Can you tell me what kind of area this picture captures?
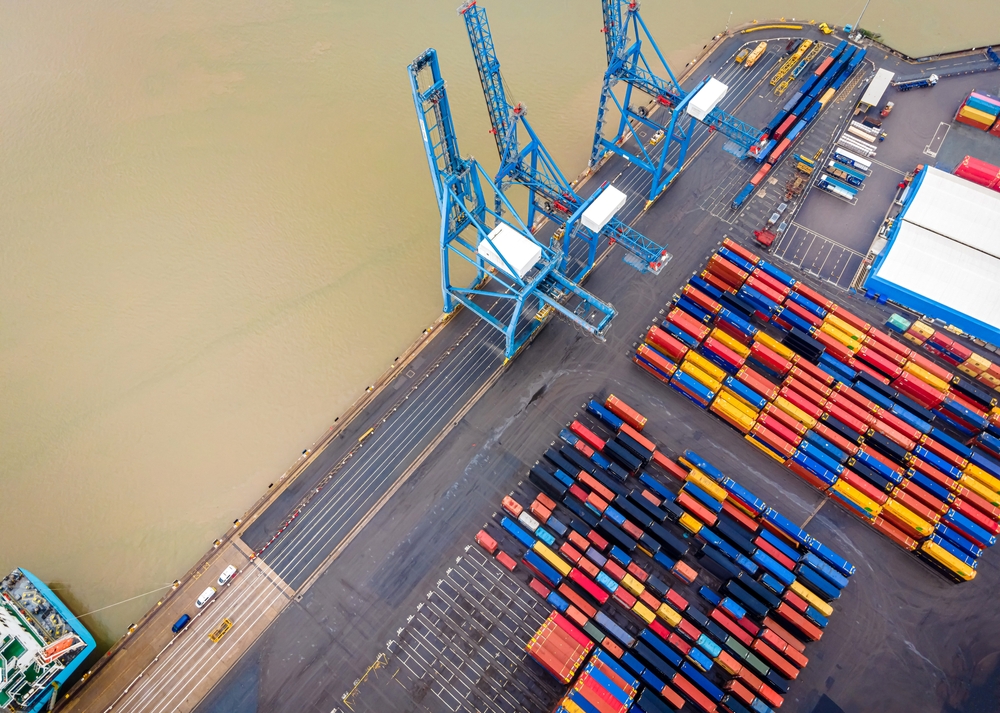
port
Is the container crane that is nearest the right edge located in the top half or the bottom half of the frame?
top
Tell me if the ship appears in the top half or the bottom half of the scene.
bottom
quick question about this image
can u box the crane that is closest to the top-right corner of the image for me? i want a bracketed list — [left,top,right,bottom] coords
[583,0,777,208]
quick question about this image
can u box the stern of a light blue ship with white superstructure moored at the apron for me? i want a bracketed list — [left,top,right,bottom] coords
[0,570,100,713]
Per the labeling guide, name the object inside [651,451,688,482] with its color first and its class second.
red shipping container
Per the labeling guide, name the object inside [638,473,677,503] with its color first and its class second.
blue shipping container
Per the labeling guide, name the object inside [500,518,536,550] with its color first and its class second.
blue shipping container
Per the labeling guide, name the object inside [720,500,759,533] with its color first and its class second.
red shipping container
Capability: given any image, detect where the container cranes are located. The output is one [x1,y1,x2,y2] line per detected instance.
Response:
[399,42,624,367]
[583,0,777,208]
[447,0,680,304]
